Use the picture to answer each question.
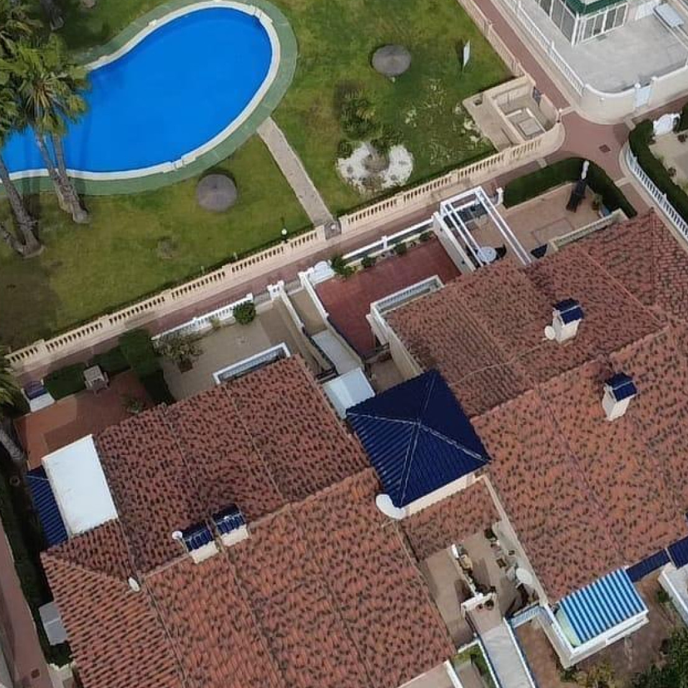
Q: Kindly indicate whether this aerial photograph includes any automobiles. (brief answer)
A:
No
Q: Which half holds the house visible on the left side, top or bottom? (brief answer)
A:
bottom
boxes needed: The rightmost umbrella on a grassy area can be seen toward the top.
[373,49,409,84]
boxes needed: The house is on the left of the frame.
[20,339,465,688]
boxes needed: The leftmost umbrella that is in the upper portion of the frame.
[197,177,237,213]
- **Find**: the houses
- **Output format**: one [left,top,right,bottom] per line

[20,339,465,688]
[366,202,688,667]
[535,0,675,44]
